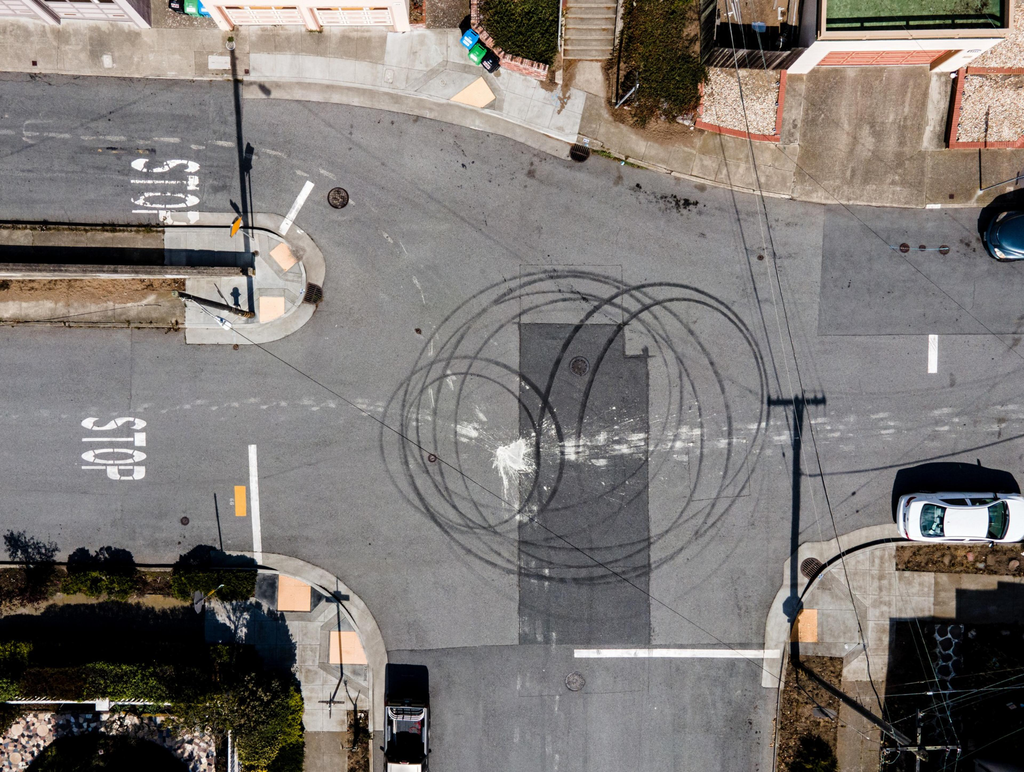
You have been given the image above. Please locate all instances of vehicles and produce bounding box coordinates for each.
[982,213,1024,265]
[378,696,435,772]
[894,486,1023,546]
